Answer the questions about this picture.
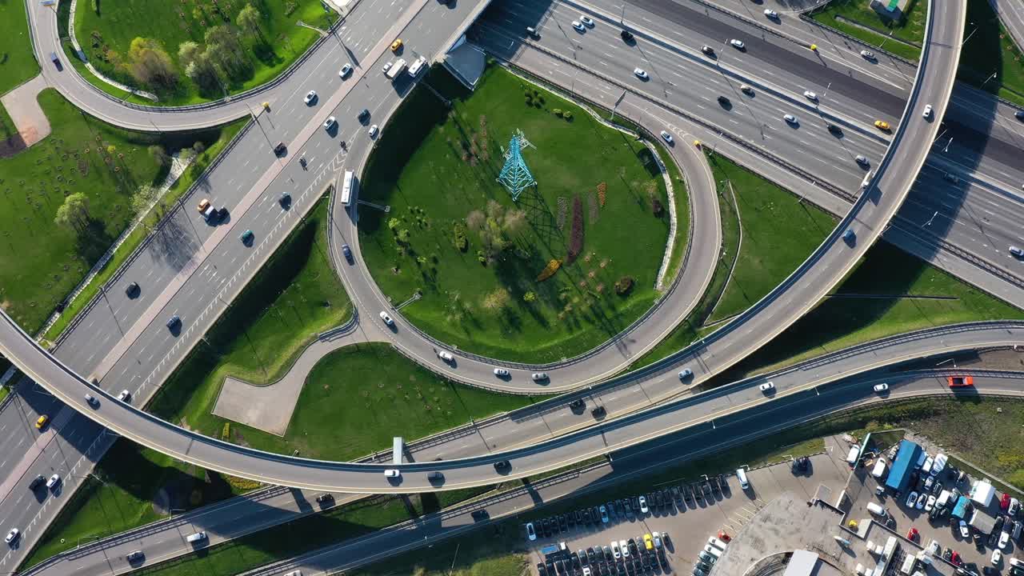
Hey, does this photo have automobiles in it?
Yes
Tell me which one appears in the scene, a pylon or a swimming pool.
pylon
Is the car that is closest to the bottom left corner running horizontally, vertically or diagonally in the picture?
diagonally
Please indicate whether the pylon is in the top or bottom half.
top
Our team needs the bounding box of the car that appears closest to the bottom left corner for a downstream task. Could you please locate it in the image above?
[2,526,22,547]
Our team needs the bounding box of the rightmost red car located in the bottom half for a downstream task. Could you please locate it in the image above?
[999,491,1012,511]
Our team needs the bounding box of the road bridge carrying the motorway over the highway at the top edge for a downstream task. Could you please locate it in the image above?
[407,0,484,37]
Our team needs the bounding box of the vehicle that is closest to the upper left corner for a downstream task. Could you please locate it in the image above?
[50,55,63,69]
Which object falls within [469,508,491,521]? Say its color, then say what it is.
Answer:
black vehicle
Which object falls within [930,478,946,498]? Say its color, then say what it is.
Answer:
black car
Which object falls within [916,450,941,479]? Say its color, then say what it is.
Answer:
white truck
